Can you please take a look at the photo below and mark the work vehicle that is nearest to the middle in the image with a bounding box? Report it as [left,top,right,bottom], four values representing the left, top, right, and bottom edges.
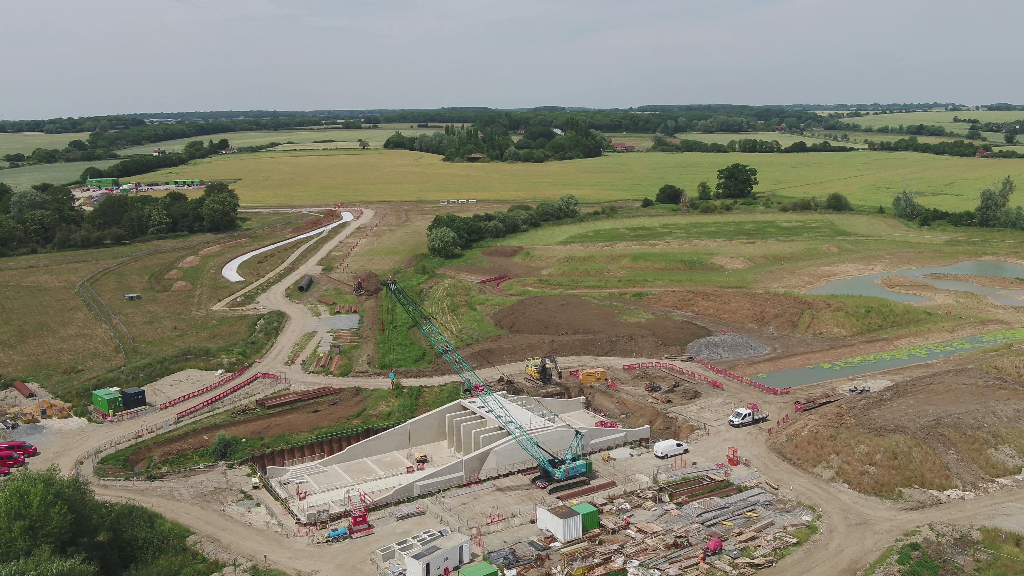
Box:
[526,354,575,386]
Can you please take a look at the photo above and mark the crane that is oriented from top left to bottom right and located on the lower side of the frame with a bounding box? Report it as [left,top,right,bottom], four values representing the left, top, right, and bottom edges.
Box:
[376,270,599,492]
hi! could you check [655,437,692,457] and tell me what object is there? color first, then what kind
white vehicle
